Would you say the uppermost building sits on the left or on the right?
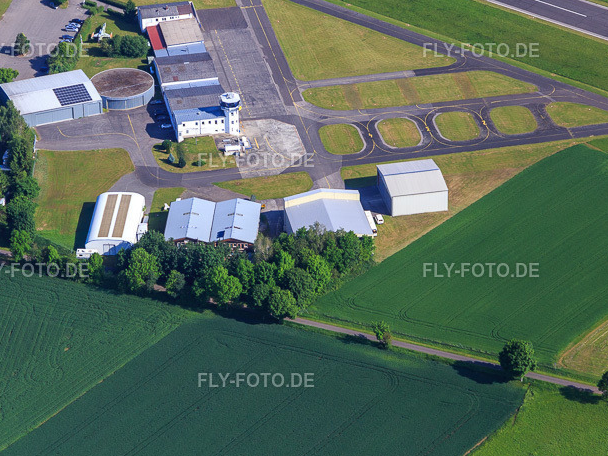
left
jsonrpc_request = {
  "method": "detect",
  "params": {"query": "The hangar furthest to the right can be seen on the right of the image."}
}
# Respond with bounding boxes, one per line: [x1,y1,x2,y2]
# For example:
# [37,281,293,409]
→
[377,158,450,216]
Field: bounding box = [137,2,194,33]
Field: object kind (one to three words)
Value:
building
